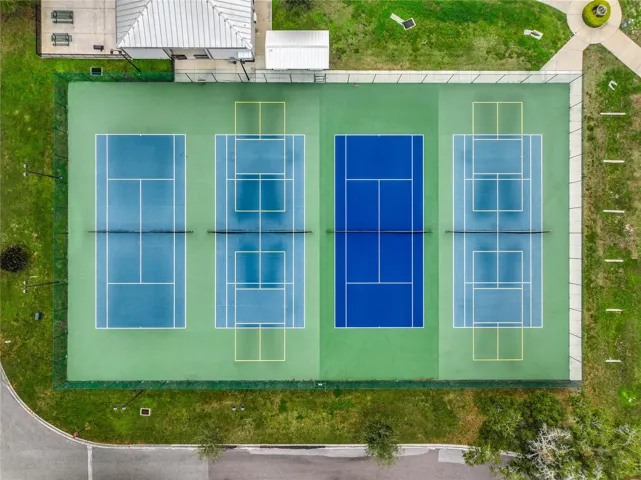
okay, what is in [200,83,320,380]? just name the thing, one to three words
tennis court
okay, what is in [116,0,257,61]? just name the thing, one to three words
building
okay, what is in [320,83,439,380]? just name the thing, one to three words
tennis court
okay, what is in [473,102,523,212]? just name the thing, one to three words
sports court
